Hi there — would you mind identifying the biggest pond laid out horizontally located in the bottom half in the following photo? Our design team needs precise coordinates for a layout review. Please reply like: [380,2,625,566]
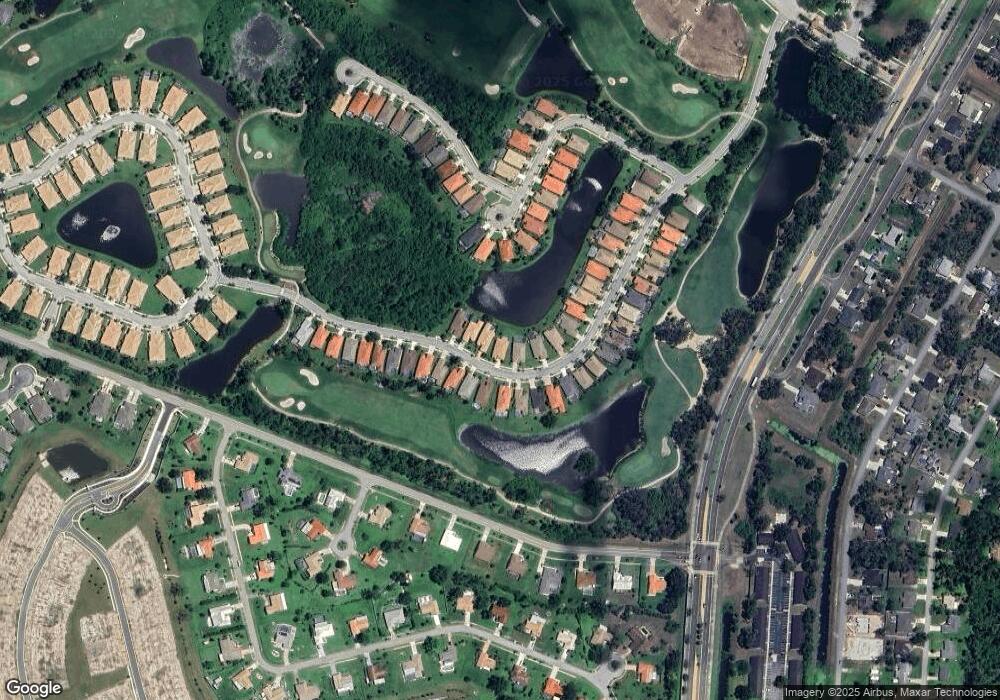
[459,384,648,490]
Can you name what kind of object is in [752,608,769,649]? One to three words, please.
building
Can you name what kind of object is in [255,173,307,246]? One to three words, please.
pond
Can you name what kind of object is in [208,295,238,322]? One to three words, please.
house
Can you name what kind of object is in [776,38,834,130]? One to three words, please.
pond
